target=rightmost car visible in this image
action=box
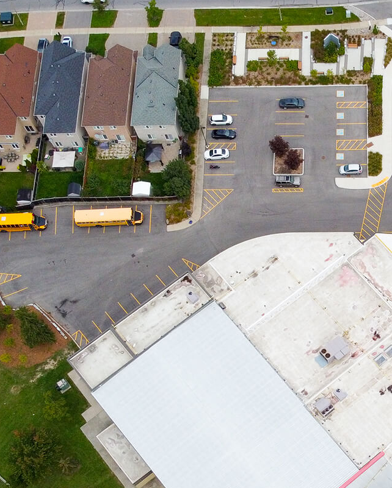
[338,163,362,176]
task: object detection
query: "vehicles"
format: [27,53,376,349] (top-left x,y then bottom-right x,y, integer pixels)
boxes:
[207,113,235,126]
[204,148,230,161]
[279,98,305,110]
[274,173,301,187]
[73,207,147,230]
[0,212,51,232]
[210,127,237,140]
[210,163,222,169]
[338,163,362,176]
[168,32,181,46]
[36,36,51,56]
[81,0,105,6]
[61,35,73,48]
